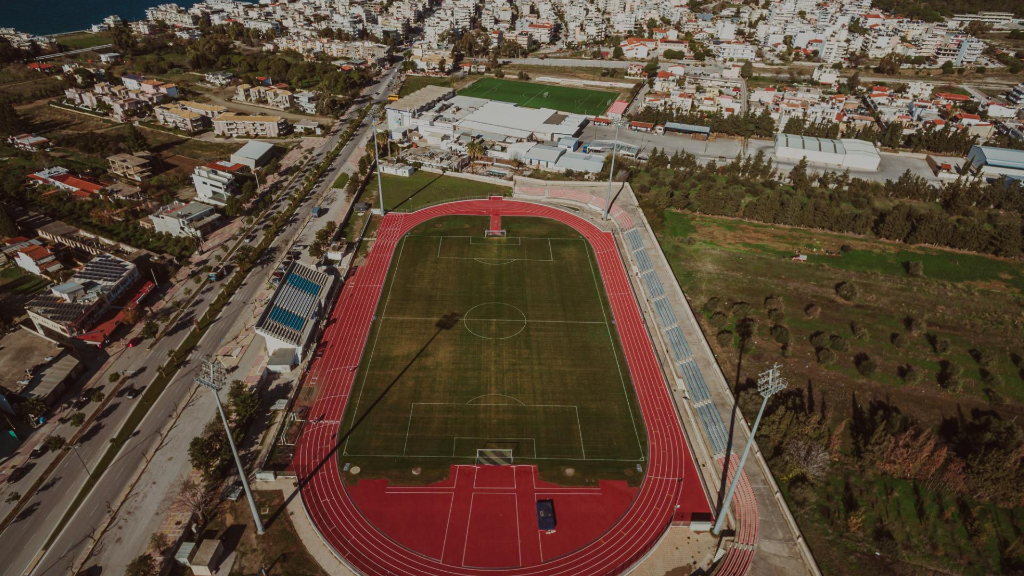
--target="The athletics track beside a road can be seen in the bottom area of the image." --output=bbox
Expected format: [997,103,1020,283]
[284,200,718,576]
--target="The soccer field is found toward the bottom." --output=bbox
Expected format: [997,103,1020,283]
[338,215,648,489]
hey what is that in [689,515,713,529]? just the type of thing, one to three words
shed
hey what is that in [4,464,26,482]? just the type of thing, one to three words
car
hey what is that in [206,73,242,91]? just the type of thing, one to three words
house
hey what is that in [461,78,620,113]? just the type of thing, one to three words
sports field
